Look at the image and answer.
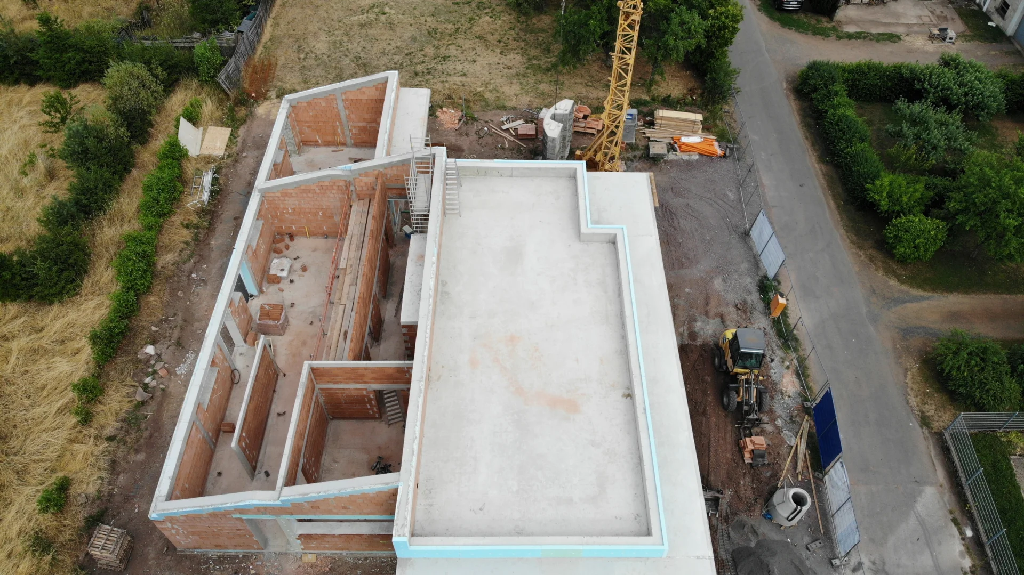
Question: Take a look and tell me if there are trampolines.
No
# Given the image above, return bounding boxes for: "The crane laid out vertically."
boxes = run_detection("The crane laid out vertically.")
[570,0,647,173]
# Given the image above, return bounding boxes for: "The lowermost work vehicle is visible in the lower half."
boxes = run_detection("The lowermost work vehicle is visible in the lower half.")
[710,326,777,444]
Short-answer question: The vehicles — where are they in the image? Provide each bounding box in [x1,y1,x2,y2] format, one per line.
[710,326,777,444]
[772,0,807,7]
